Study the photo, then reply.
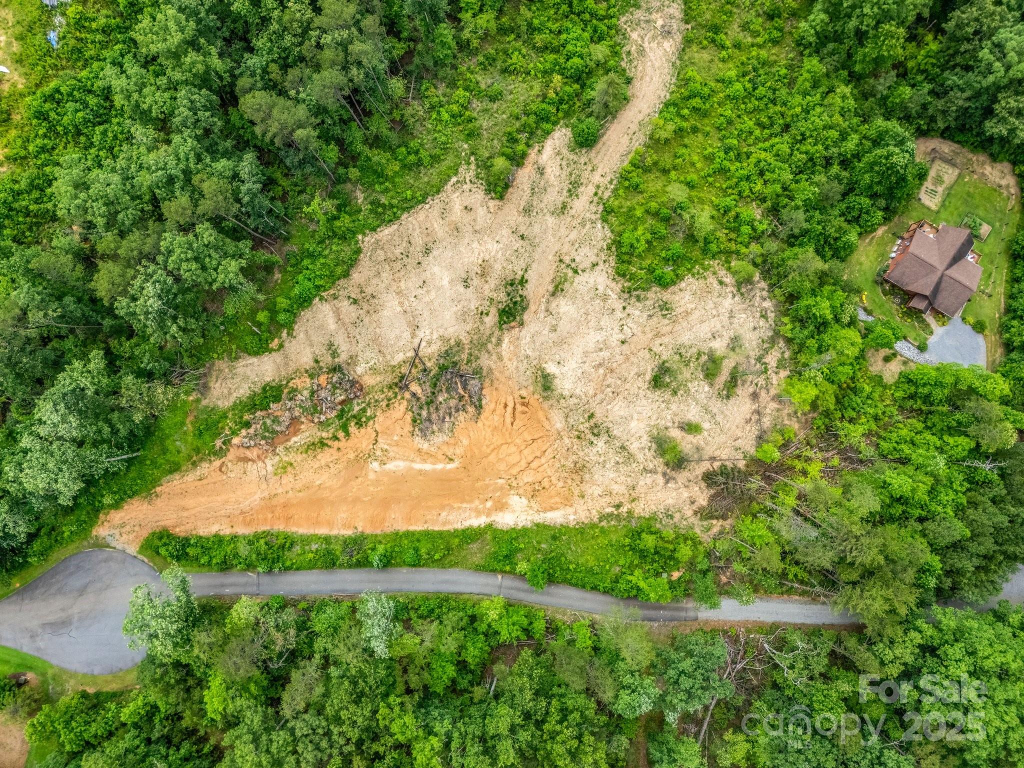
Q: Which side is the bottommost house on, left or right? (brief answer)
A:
right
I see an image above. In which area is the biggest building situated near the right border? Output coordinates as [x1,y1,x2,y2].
[877,213,985,321]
